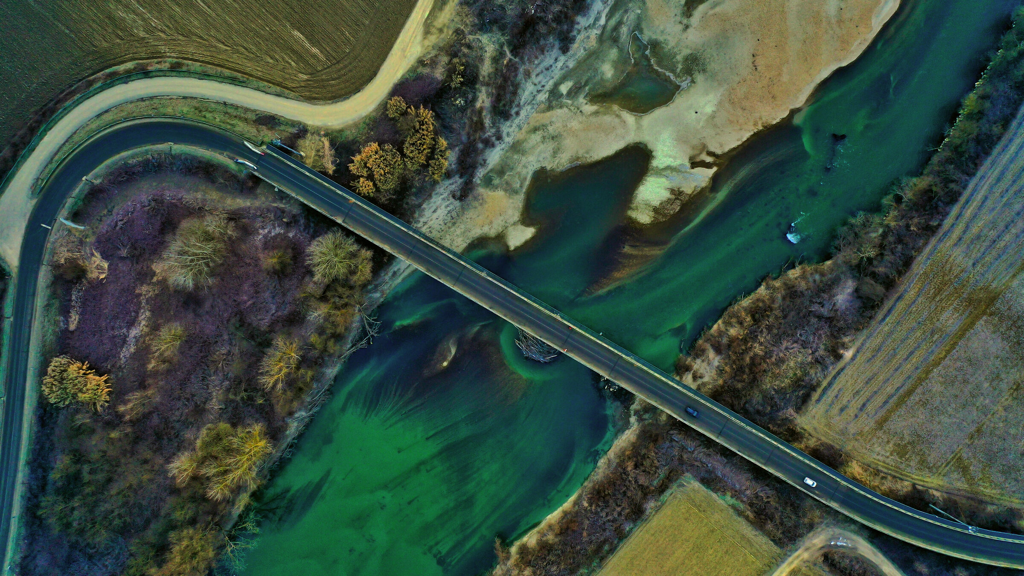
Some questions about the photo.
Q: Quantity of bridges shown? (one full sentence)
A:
The picture shows just 1 bridge.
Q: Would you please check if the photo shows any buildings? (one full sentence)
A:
No, no building is visible in the view.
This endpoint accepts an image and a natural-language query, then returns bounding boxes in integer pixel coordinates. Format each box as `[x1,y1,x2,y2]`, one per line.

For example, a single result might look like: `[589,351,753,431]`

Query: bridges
[250,142,853,516]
